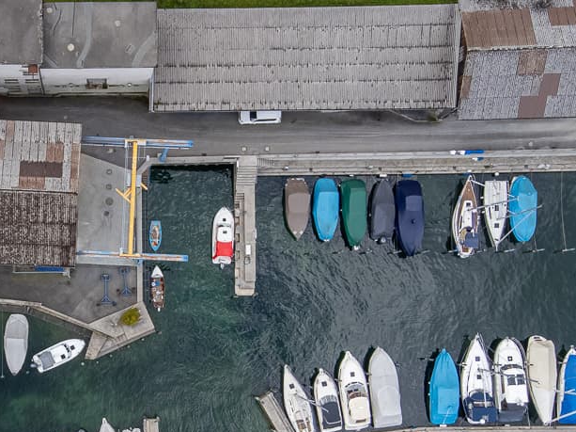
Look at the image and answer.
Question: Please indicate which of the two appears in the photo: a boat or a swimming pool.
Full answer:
The one in the frame is a boat.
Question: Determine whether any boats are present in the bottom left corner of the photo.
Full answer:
Yes, a boat shows up in the bottom left corner of the photo.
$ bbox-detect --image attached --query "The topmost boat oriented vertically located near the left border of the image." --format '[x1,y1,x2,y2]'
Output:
[4,313,31,376]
